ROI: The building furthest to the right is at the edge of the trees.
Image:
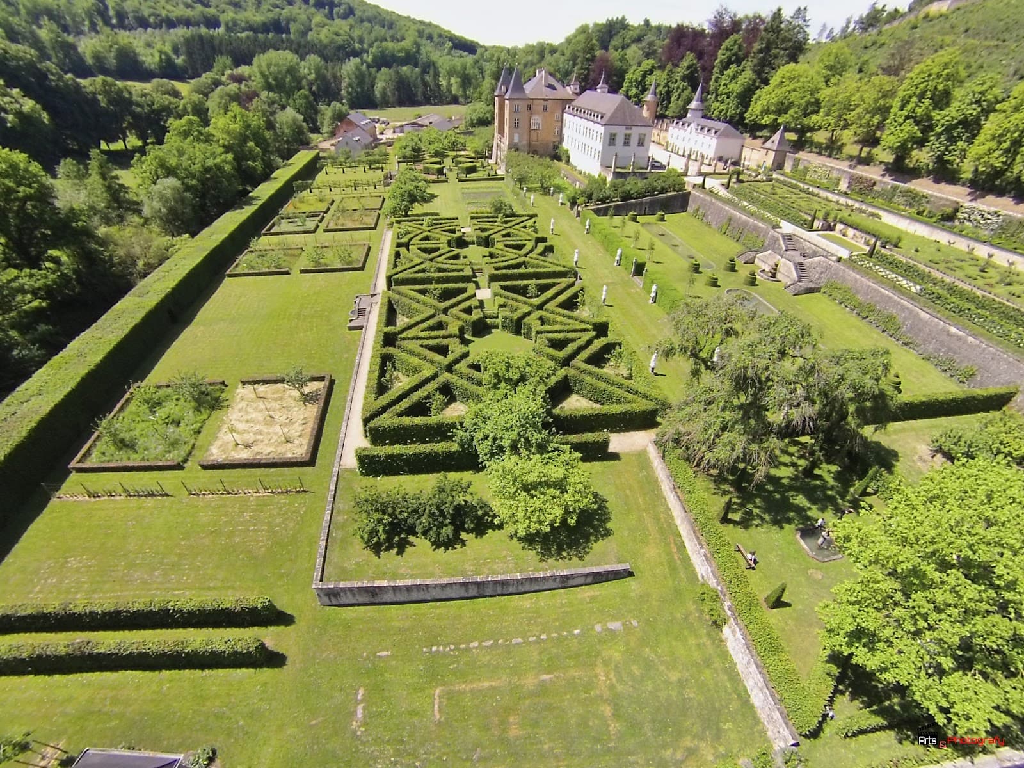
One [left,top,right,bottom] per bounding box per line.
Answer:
[761,127,791,168]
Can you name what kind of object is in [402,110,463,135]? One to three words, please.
barn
